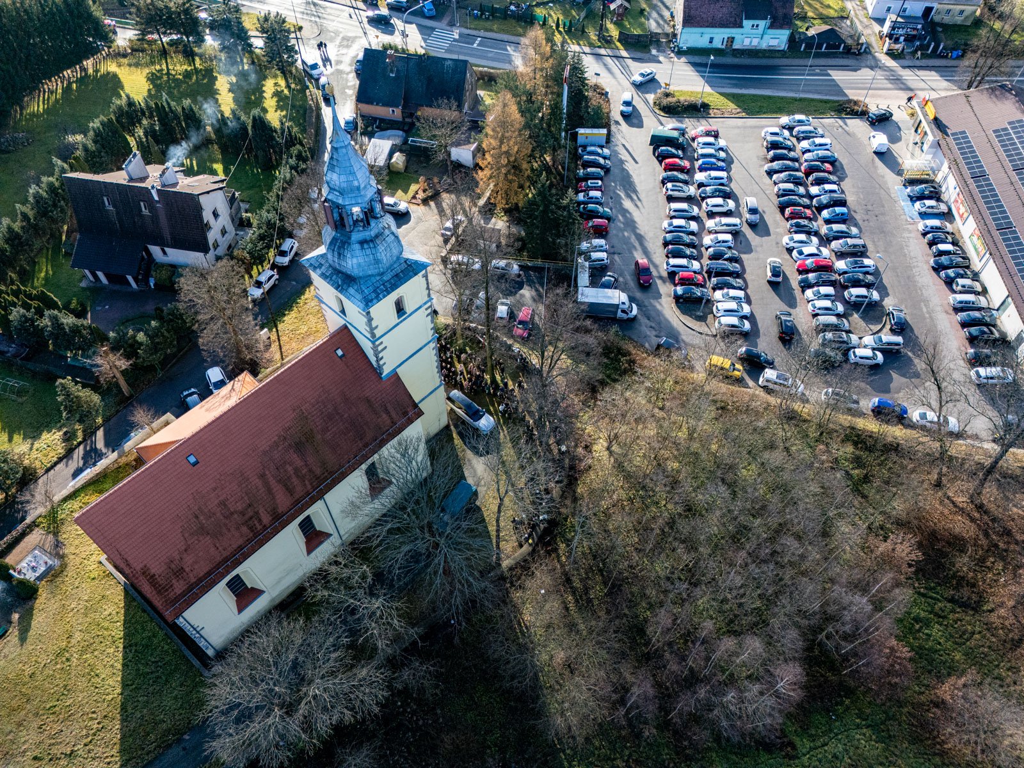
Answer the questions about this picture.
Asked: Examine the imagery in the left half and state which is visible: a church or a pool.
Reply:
church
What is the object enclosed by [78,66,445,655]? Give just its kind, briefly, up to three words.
church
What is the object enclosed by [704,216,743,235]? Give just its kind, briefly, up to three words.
car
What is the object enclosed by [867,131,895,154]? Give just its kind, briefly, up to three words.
vehicle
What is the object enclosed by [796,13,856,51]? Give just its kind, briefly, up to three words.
building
